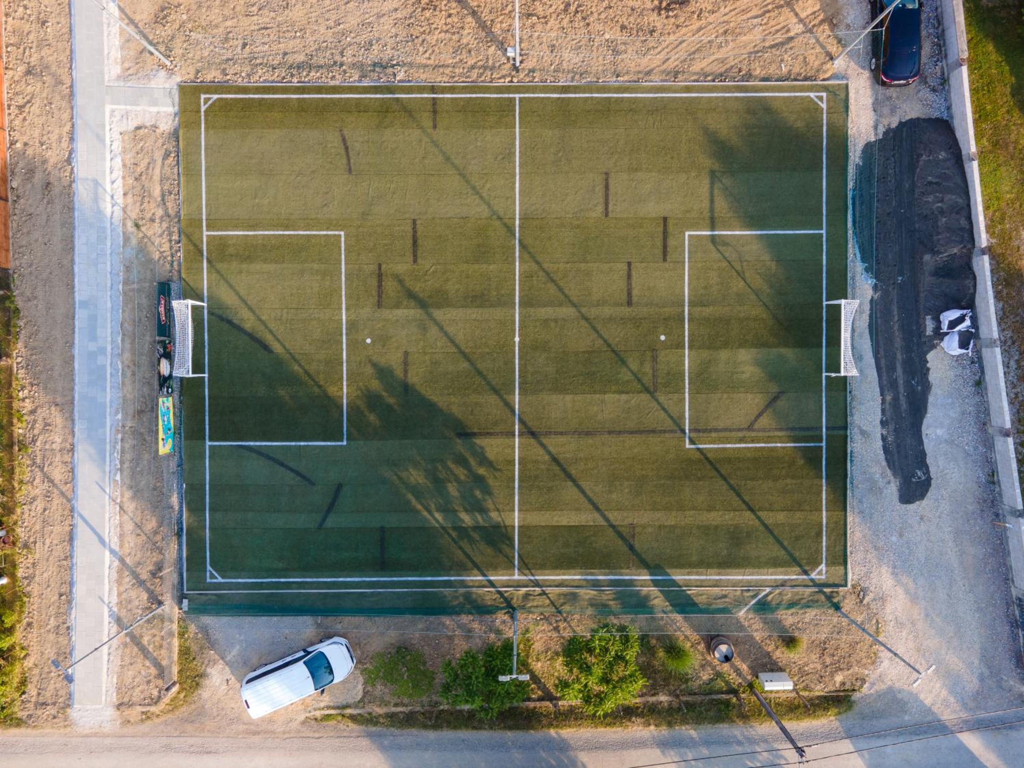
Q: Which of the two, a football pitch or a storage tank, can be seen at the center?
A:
football pitch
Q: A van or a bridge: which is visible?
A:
van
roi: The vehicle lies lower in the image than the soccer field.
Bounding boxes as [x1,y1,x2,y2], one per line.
[242,637,357,718]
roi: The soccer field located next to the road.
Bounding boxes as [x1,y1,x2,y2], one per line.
[178,81,864,615]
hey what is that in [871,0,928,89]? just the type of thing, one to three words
car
